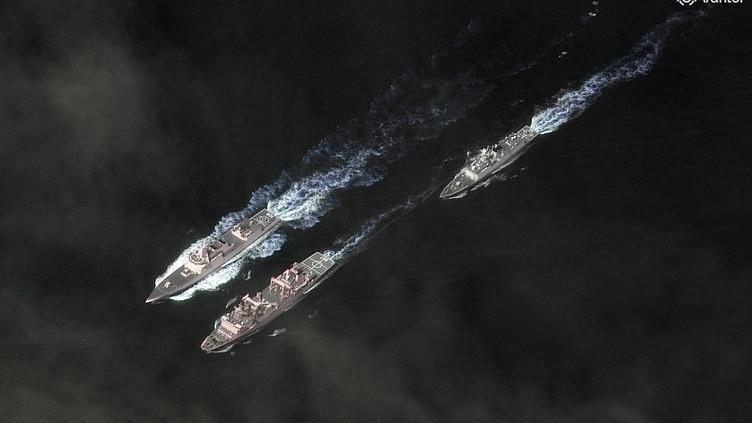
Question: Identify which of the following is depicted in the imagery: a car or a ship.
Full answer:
The one in the frame is a ship.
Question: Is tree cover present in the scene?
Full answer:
No, there's no tree cover in this view.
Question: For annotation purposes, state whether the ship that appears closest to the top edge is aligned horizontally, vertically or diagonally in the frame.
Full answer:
From this overhead view, the ship that appears closest to the top edge appears to run diagonally.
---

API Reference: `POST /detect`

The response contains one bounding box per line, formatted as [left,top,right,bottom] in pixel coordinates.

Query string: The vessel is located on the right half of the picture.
[440,126,538,198]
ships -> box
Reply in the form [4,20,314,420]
[146,209,281,302]
[440,126,538,198]
[200,252,336,351]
